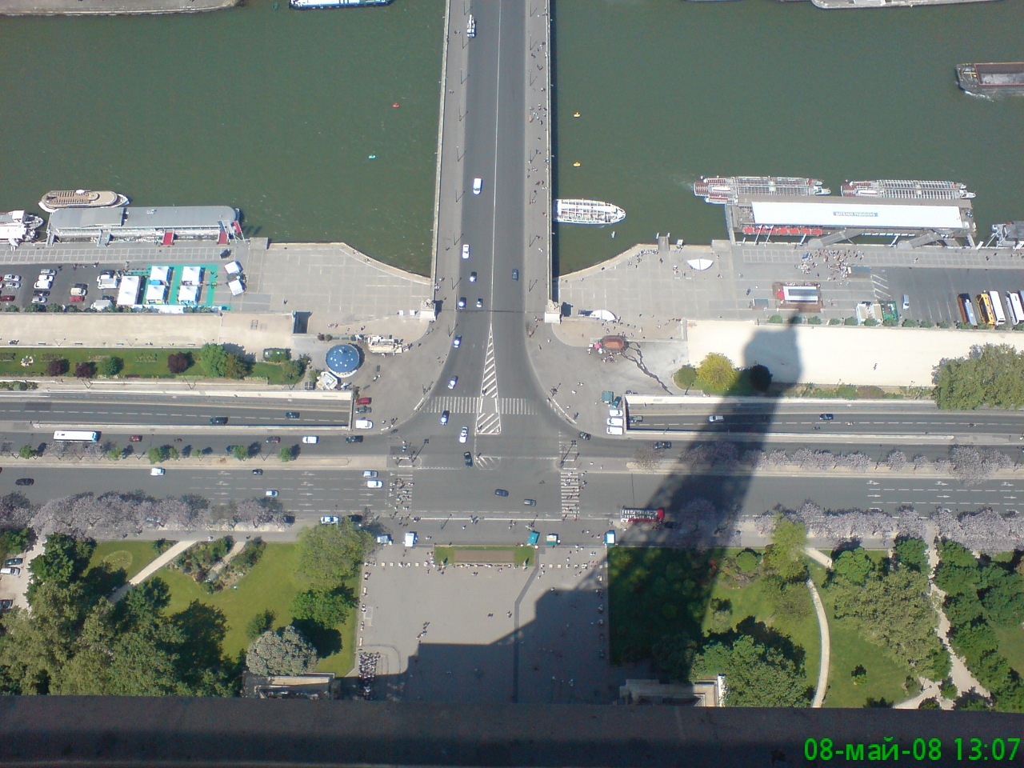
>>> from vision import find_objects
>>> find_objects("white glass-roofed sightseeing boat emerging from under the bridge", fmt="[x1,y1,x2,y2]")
[552,200,625,225]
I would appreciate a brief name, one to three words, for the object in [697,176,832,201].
boat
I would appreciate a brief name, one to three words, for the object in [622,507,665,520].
vehicle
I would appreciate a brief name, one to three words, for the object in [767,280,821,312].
building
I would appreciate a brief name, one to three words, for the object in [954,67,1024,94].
ship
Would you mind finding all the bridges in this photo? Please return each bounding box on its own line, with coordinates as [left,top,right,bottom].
[427,0,555,323]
